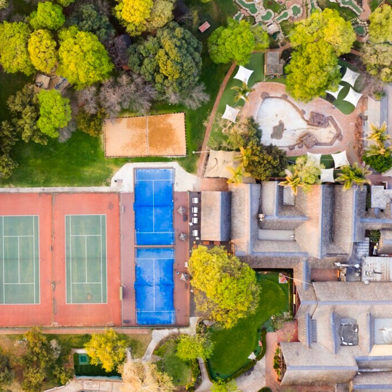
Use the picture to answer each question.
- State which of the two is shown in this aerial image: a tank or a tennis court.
tennis court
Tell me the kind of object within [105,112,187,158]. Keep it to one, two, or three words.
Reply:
sports court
